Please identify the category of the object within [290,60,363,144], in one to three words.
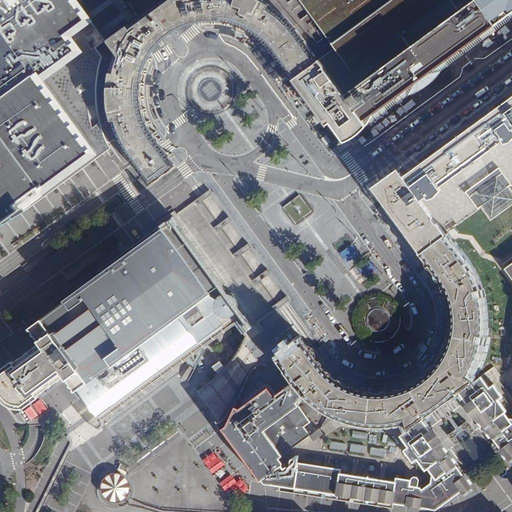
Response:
building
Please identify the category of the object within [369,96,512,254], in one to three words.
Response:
building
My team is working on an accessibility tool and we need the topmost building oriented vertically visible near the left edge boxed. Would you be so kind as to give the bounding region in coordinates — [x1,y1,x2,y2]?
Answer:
[0,0,96,225]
